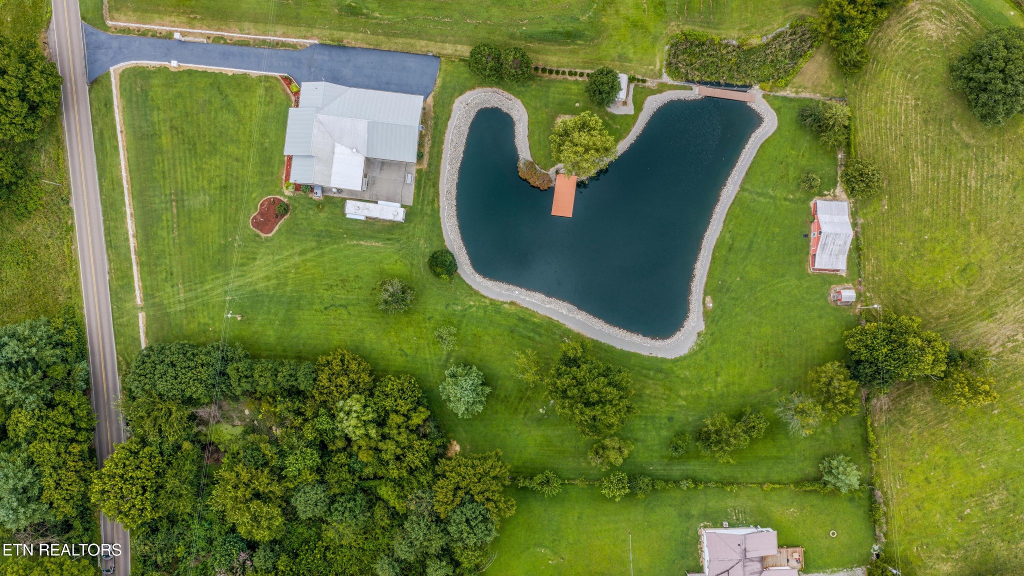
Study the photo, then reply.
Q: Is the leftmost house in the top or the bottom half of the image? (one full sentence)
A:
You can find the leftmost house in the top half.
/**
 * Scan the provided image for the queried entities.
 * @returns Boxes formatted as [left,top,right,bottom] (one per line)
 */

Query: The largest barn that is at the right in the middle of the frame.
[811,200,854,272]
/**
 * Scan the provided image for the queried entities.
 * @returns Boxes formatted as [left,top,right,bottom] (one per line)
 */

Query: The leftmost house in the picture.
[284,78,424,192]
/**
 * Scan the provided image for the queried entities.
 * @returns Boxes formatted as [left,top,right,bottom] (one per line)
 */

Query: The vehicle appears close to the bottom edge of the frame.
[97,543,113,575]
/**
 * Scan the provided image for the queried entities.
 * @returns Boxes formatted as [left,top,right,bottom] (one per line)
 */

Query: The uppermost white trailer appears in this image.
[345,200,412,223]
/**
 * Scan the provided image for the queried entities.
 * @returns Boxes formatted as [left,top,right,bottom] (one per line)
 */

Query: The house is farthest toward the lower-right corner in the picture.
[703,527,798,576]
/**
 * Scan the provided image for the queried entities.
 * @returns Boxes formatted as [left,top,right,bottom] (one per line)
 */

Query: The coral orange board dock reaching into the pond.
[551,174,577,217]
